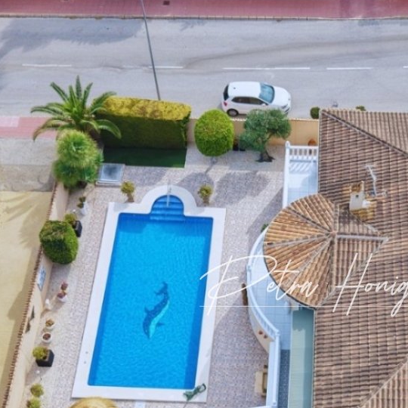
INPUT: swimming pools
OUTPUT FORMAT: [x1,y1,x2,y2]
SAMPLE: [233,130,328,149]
[71,172,226,402]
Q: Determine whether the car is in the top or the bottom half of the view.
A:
top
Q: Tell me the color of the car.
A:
white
